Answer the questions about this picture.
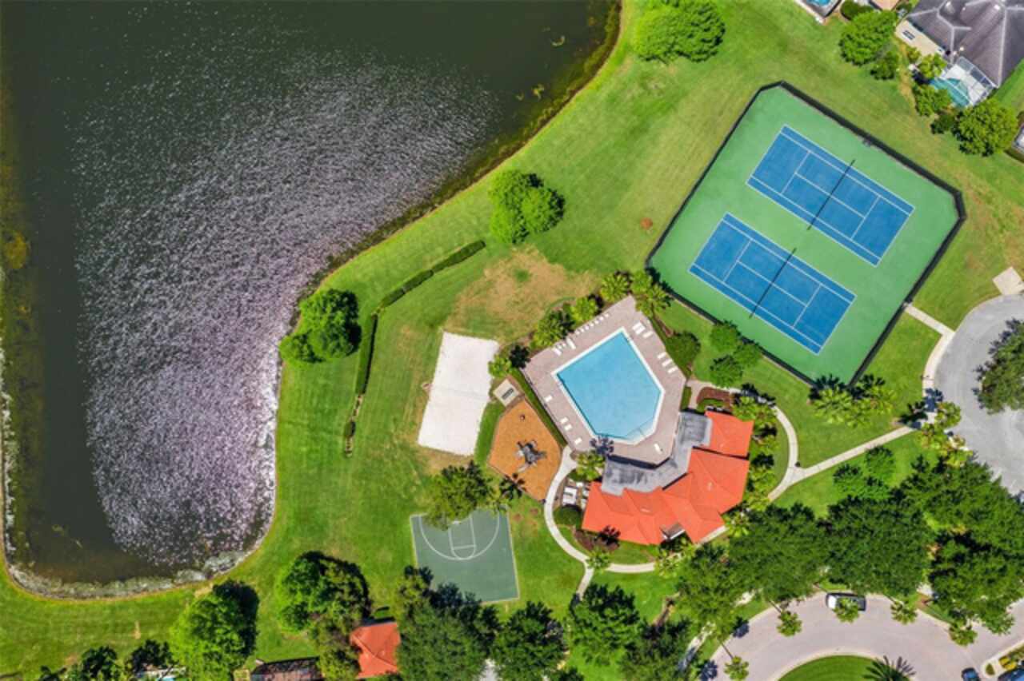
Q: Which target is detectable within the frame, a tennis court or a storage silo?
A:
tennis court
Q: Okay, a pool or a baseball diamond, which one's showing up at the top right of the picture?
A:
pool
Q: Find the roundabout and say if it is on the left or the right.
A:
right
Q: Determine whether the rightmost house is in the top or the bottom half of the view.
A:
top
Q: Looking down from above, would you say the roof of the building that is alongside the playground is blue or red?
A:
red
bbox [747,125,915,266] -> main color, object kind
blue tennis court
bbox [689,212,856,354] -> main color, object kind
blue tennis court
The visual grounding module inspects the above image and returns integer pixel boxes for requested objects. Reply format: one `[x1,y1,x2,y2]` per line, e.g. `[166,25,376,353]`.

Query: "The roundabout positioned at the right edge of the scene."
[706,589,1024,681]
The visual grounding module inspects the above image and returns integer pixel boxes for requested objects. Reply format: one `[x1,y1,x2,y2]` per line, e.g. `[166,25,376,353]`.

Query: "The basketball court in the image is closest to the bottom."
[410,508,519,609]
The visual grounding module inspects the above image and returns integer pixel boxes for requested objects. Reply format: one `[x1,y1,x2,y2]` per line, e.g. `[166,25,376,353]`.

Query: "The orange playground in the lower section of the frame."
[488,400,562,501]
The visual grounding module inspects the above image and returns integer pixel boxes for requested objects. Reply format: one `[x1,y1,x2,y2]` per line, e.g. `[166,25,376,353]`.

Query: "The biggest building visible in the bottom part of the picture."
[582,411,754,552]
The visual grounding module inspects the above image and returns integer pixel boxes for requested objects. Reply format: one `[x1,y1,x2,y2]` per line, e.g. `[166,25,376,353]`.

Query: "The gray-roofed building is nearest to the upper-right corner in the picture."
[901,0,1024,88]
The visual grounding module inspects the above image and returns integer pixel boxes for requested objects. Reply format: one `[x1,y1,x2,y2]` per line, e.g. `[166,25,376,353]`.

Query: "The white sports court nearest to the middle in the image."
[418,332,499,456]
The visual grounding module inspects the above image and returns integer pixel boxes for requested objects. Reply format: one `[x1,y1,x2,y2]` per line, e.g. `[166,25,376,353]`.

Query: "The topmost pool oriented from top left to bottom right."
[932,74,971,106]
